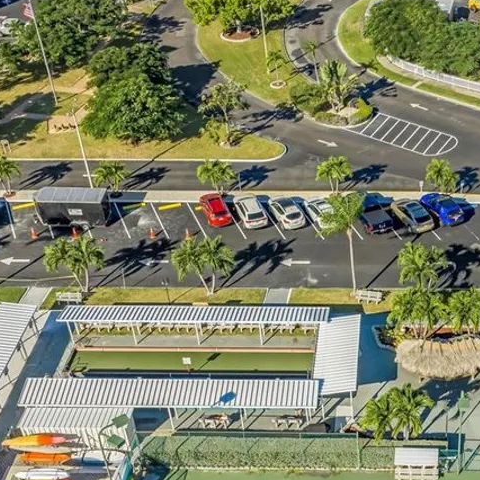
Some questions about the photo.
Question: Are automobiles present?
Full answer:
Yes, you can see an automobile in this photo.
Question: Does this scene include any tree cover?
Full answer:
Yes, there is tree cover in the image.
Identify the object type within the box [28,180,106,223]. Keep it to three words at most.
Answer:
trailer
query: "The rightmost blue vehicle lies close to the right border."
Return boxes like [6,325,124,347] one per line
[423,195,464,229]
